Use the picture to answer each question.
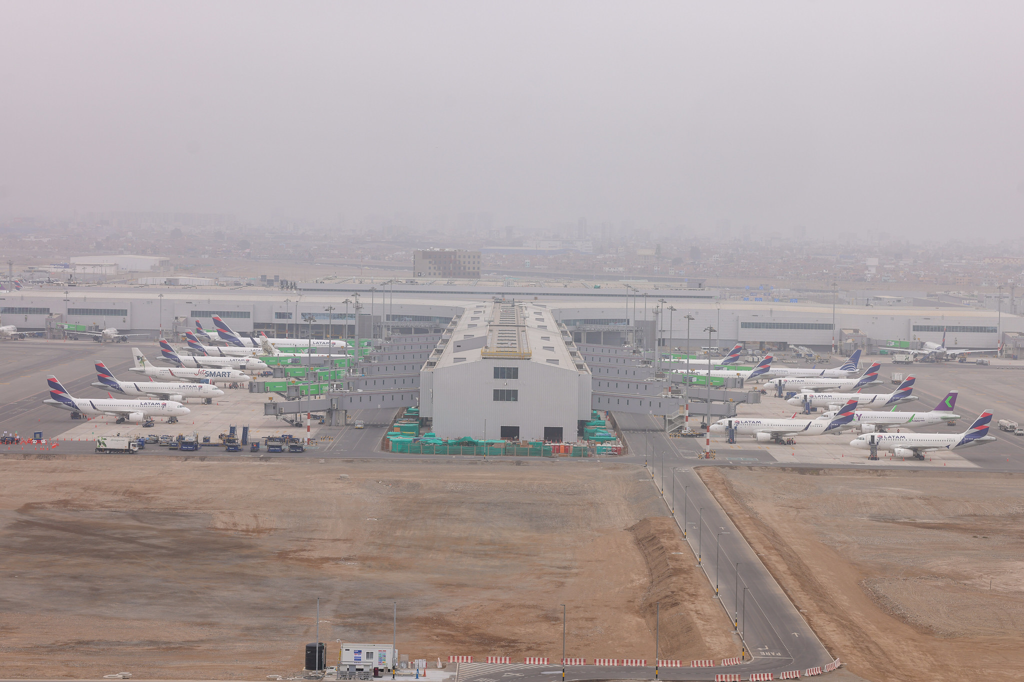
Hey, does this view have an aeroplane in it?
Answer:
Yes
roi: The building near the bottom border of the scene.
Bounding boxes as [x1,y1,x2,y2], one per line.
[337,640,399,673]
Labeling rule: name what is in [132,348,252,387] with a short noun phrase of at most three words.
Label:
airplane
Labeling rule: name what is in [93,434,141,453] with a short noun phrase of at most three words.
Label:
vehicle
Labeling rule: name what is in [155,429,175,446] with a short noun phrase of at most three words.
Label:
work vehicle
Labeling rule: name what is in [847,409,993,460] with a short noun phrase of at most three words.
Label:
airplane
